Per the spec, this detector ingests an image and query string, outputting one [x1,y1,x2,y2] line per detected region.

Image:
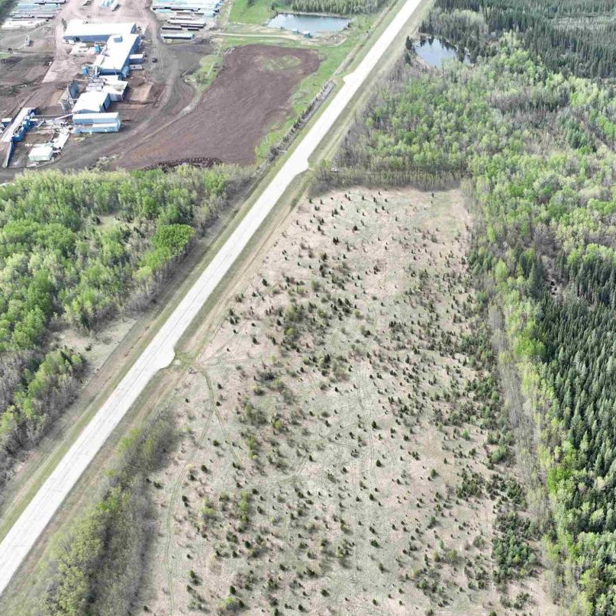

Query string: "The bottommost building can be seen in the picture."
[29,147,54,161]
